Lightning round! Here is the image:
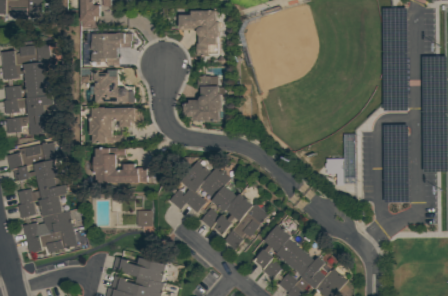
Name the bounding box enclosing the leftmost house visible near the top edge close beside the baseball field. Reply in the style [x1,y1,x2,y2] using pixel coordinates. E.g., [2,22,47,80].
[178,10,220,55]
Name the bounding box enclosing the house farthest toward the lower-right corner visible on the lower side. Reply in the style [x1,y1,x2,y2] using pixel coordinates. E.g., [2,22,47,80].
[318,272,345,296]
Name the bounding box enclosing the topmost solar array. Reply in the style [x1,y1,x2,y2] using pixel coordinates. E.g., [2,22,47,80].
[382,8,408,110]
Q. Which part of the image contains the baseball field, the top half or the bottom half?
top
